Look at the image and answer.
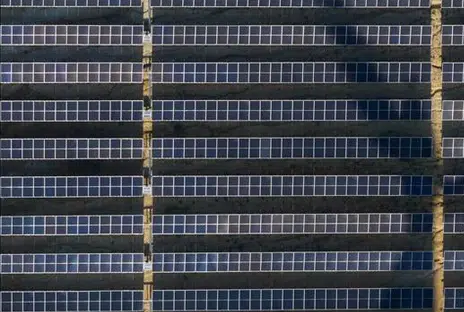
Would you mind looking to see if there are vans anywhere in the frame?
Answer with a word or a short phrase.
No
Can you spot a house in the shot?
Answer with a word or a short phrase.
No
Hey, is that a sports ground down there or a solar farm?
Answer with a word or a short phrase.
solar farm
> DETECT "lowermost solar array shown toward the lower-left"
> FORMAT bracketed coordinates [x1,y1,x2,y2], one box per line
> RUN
[0,290,144,312]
